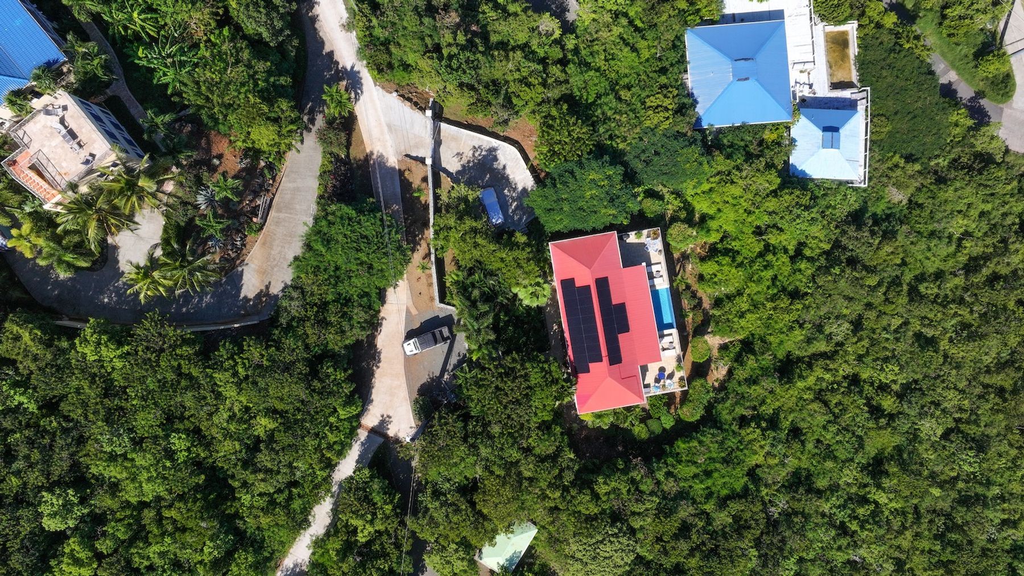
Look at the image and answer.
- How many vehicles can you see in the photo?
2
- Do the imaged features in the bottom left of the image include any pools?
No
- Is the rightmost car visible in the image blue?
Yes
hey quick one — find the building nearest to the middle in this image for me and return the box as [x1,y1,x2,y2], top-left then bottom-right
[549,231,662,415]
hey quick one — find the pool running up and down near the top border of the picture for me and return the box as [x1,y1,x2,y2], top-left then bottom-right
[825,22,859,91]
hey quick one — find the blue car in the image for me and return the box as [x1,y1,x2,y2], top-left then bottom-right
[480,186,505,227]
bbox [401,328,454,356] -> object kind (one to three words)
truck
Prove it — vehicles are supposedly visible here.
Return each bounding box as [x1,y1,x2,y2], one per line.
[480,186,505,227]
[401,328,454,356]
